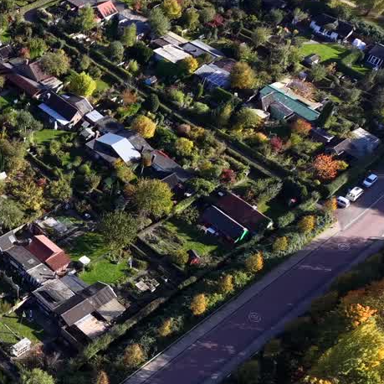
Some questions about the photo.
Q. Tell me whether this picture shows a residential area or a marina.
residential area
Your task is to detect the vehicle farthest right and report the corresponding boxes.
[361,174,379,187]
